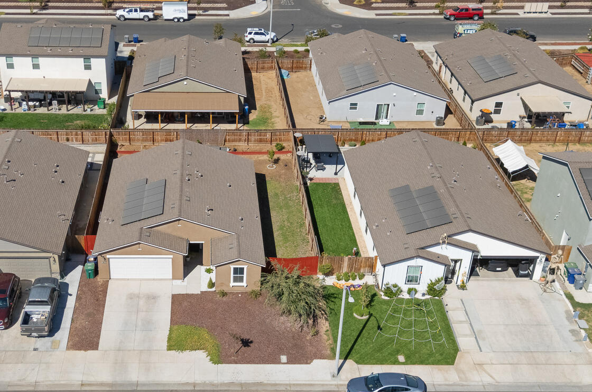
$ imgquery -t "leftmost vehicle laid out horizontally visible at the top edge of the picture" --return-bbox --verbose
[115,5,158,22]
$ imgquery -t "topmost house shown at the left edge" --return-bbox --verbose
[0,12,116,107]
